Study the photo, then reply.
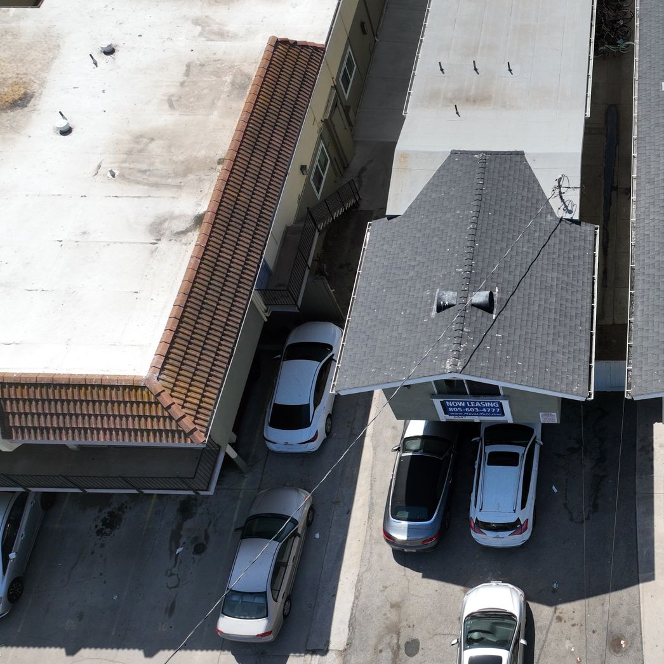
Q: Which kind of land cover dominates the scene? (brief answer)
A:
buildings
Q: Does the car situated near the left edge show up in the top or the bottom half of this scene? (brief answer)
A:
bottom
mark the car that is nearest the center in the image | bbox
[265,324,342,453]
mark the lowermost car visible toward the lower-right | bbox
[446,581,532,664]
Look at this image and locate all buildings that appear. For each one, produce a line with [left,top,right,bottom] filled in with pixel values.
[330,0,601,424]
[0,0,388,495]
[622,0,664,424]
